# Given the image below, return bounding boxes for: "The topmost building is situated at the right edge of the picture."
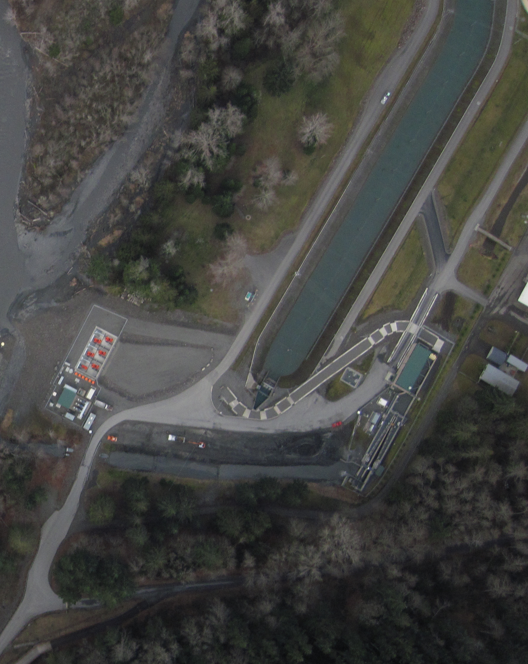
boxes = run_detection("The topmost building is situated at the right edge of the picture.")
[510,276,528,313]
